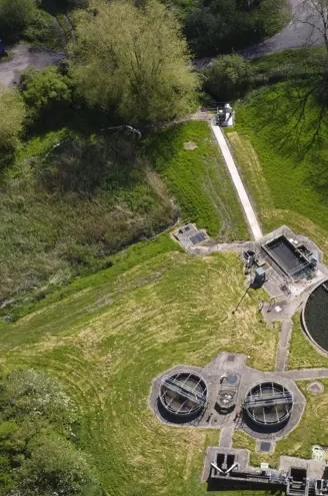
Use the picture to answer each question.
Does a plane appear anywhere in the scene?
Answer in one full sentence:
No, no plane can be seen from above.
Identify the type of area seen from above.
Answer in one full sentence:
It's an industrial area.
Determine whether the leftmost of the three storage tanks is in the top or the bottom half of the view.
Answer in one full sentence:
You can find the leftmost of the three storage tanks in the bottom half.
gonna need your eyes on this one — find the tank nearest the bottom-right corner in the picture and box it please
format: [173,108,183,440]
[243,380,294,430]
